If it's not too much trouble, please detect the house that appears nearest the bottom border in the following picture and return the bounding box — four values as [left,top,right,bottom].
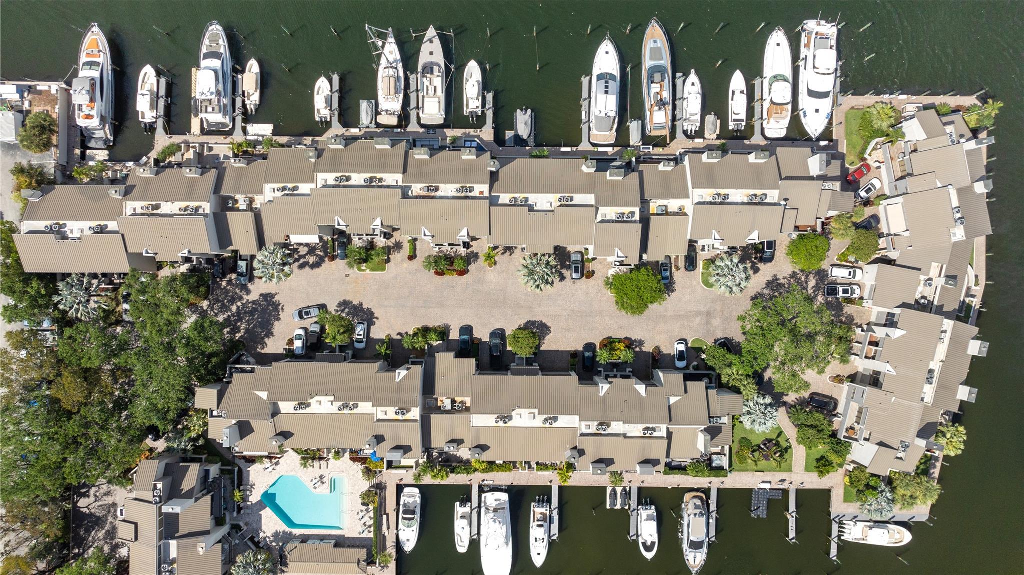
[285,533,371,575]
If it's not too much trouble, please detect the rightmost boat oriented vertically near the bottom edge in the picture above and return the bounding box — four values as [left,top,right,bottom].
[682,490,708,575]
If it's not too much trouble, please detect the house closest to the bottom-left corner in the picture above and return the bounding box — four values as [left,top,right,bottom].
[117,450,240,575]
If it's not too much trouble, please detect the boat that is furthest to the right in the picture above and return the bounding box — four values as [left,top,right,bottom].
[838,522,910,547]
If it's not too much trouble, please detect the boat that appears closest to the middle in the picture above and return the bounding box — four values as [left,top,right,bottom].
[515,106,534,140]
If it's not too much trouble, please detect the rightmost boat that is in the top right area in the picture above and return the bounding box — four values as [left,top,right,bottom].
[798,4,843,139]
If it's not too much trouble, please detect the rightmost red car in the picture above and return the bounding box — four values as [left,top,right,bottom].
[844,161,872,186]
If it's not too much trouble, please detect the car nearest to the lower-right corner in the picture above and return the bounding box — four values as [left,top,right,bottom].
[807,394,837,410]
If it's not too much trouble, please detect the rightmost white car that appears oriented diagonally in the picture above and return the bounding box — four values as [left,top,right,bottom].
[855,177,883,202]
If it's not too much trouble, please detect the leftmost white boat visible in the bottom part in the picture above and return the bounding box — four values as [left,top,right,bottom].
[399,486,422,555]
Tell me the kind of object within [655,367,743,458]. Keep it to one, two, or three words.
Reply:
house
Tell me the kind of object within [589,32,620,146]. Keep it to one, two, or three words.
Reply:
boat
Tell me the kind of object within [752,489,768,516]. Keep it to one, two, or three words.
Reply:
pier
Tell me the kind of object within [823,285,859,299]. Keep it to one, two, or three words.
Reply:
car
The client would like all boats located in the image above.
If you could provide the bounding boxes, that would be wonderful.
[681,67,701,139]
[316,77,332,132]
[141,66,160,133]
[455,490,472,551]
[464,61,482,127]
[530,491,550,567]
[682,490,708,575]
[57,20,117,147]
[638,493,657,559]
[363,28,404,128]
[194,19,233,132]
[589,32,620,146]
[479,489,512,575]
[798,4,843,139]
[727,71,746,140]
[629,121,642,148]
[703,114,718,139]
[760,25,793,140]
[515,106,534,140]
[838,522,910,547]
[361,100,375,130]
[418,25,446,124]
[640,16,673,149]
[399,486,422,555]
[246,59,263,116]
